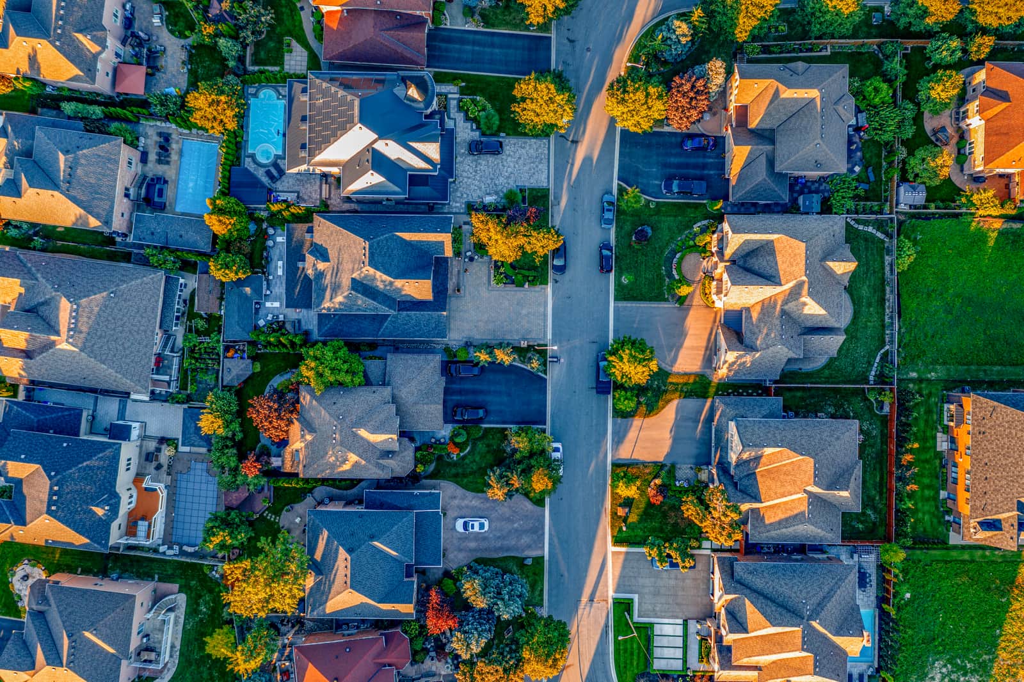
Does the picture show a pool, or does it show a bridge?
pool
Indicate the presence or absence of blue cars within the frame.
Yes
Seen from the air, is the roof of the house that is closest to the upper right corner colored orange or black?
orange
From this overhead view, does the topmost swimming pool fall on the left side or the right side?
left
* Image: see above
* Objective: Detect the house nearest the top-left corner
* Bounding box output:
[0,0,126,96]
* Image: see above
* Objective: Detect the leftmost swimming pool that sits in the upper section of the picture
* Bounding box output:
[173,138,220,214]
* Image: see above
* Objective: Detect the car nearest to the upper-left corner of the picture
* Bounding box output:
[468,138,502,155]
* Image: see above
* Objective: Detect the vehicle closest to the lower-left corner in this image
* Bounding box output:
[456,517,489,533]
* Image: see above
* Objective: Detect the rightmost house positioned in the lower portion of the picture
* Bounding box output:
[942,393,1024,552]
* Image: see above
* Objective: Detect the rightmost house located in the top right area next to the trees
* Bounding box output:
[951,61,1024,210]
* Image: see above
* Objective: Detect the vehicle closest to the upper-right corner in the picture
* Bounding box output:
[681,135,715,151]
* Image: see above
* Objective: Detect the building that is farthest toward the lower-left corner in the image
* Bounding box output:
[0,575,179,682]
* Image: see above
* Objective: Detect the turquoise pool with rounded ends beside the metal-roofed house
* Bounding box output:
[247,87,286,165]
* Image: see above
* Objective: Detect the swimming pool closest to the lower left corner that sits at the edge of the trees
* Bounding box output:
[171,459,219,548]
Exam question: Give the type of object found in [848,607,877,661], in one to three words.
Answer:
swimming pool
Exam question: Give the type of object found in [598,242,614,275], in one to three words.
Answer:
car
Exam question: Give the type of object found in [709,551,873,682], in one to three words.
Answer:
house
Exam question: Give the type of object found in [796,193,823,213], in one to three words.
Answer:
shed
